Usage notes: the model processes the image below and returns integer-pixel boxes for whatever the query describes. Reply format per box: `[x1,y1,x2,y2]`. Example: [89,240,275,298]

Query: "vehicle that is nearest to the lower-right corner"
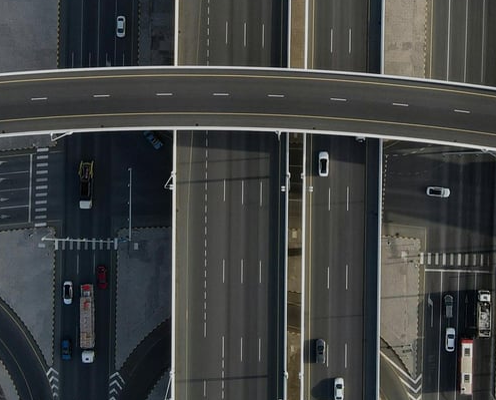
[459,338,475,399]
